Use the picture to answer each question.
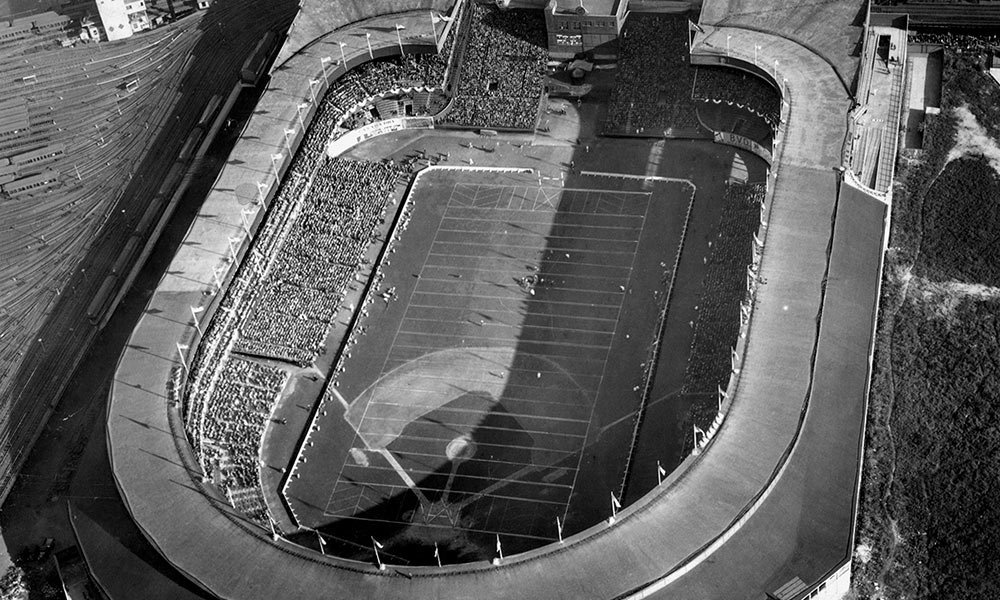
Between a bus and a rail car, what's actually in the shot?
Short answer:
rail car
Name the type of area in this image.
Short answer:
sports ground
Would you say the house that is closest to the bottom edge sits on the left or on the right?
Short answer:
left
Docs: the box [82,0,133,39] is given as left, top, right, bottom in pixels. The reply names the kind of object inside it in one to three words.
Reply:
building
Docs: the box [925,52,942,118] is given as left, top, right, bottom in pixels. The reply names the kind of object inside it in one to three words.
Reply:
house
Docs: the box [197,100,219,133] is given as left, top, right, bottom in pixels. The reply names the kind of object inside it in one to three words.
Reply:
rail car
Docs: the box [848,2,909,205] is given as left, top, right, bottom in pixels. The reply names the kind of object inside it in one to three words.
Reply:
house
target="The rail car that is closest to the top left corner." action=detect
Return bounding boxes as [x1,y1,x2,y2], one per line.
[0,14,34,41]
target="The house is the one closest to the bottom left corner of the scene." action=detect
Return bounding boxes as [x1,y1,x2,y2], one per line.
[54,544,95,600]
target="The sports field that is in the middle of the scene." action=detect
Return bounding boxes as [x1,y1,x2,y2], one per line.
[260,41,766,565]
